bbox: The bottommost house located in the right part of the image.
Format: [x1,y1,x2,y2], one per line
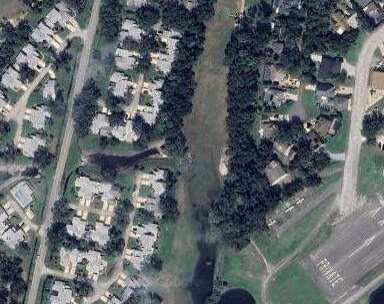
[263,157,290,186]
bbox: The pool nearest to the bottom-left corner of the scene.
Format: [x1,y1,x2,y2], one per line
[9,182,33,207]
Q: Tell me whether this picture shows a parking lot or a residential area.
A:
residential area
